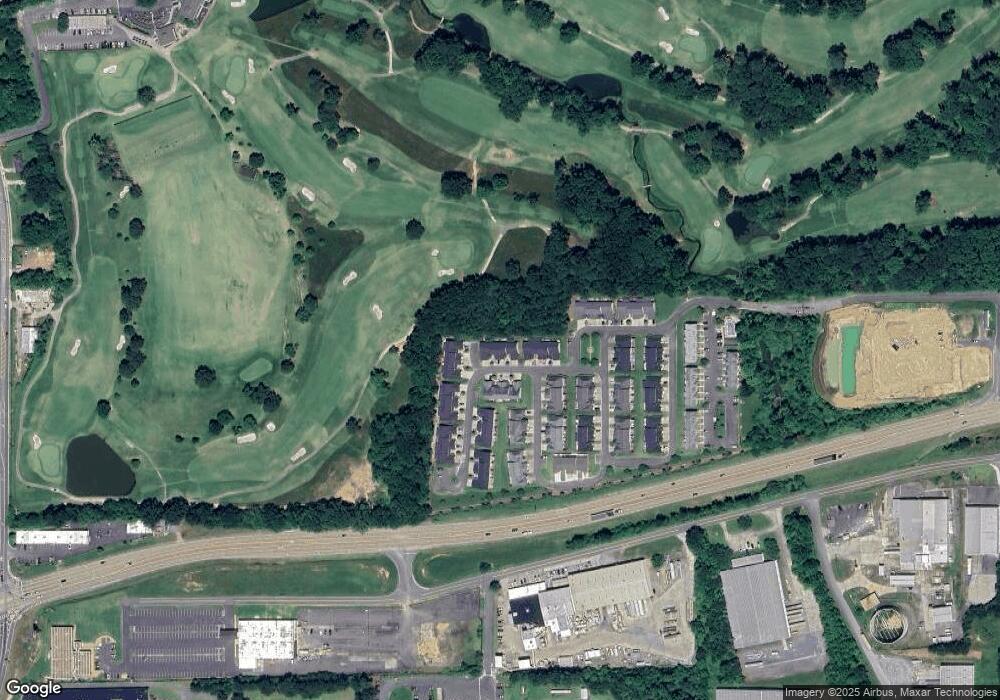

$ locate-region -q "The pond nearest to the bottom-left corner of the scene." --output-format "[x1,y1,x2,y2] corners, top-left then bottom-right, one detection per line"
[66,434,136,496]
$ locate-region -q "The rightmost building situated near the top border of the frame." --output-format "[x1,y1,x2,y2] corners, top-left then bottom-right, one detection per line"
[156,23,179,47]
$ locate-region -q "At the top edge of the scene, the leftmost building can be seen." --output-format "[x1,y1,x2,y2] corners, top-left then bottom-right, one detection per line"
[68,16,106,29]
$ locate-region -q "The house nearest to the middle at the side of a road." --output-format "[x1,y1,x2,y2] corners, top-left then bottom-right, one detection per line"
[479,341,519,362]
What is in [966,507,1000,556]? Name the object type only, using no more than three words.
building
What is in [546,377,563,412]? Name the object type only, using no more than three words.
house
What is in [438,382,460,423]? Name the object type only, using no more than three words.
house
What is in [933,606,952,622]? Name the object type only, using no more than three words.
shed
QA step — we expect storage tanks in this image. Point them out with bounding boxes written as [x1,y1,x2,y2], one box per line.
[870,607,908,644]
